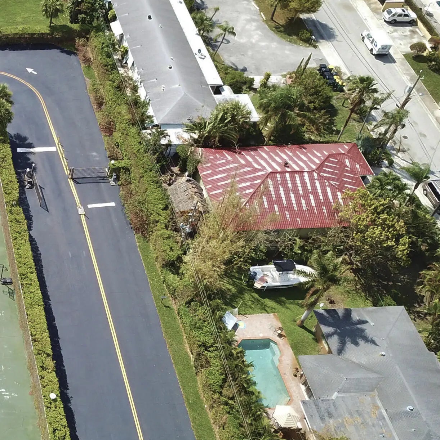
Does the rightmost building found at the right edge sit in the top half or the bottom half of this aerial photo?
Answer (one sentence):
The bottom half of the photo is where the rightmost building found at the right edge is.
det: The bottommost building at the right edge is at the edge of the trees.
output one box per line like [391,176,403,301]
[293,306,440,440]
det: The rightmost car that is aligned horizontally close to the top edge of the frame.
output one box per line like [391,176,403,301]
[381,6,418,25]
